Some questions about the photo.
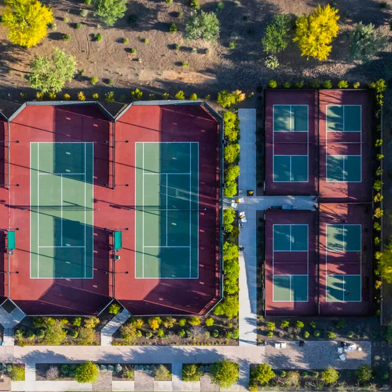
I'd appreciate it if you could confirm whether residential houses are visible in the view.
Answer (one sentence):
No, the photo shows no residential house.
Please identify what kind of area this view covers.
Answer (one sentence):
The area seen from above is a sports ground.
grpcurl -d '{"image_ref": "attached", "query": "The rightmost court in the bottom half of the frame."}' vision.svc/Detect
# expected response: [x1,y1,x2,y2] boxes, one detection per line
[318,203,373,316]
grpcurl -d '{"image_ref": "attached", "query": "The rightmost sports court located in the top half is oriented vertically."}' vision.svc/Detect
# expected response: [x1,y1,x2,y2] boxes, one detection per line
[318,89,373,203]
